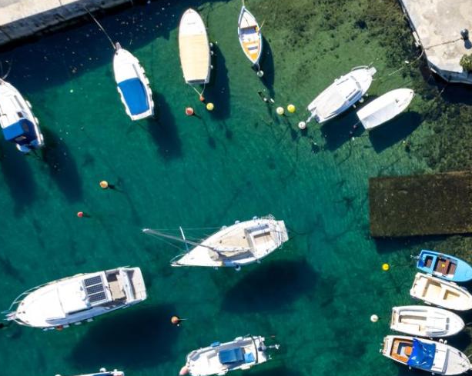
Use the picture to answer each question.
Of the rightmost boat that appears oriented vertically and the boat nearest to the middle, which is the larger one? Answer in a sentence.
It is the boat nearest to the middle that is larger, not the rightmost boat that appears oriented vertically.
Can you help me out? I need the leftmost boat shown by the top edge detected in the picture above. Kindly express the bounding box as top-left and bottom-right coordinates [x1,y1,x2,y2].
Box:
[82,5,157,124]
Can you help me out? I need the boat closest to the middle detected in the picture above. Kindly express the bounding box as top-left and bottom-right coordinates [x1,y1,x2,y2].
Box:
[141,217,296,271]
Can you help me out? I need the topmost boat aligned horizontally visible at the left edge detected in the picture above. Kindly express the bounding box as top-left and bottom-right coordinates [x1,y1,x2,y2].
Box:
[0,263,154,326]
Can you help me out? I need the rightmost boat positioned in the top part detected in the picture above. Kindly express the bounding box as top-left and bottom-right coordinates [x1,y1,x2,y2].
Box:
[355,79,440,132]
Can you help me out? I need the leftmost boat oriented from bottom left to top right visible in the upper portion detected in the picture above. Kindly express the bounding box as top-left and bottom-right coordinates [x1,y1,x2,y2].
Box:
[304,62,380,130]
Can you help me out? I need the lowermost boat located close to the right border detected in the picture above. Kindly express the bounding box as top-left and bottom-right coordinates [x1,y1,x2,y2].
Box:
[381,332,472,375]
